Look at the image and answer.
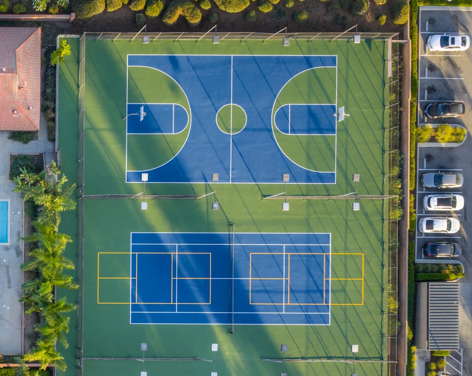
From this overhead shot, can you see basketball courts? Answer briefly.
Yes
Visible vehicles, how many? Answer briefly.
6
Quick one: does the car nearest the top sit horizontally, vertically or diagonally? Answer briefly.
horizontally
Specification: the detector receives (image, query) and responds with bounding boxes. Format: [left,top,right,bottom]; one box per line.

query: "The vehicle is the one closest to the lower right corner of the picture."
[422,239,462,259]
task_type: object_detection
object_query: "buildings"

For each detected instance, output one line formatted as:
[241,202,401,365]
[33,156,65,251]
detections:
[407,282,458,351]
[0,27,40,131]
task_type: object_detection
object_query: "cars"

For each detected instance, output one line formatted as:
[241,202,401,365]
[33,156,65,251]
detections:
[419,170,463,190]
[425,31,469,52]
[421,192,463,212]
[422,239,462,259]
[416,215,459,235]
[422,99,465,119]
